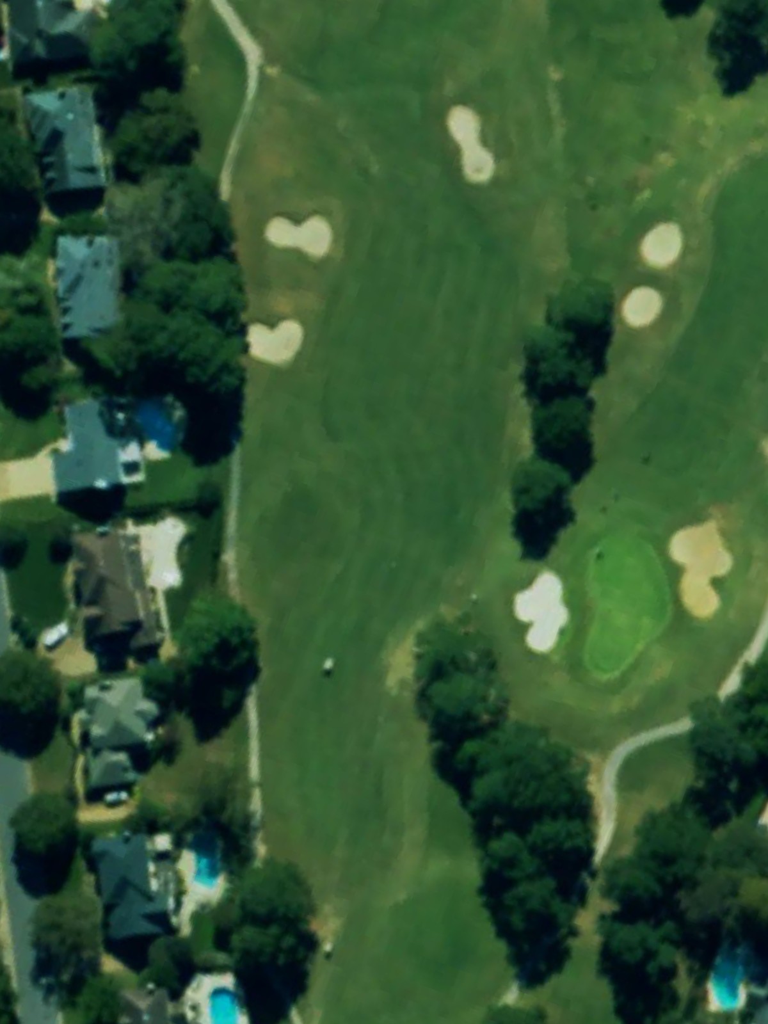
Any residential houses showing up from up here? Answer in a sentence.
Yes, the picture does show a residential house.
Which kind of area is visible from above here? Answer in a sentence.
This image shows a golf course.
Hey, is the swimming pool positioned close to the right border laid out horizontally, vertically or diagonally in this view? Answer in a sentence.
The swimming pool positioned close to the right border is oriented vertically.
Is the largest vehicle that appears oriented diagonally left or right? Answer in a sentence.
The largest vehicle that appears oriented diagonally sits on the left side.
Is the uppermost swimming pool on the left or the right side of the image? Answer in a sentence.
The uppermost swimming pool sits on the left side.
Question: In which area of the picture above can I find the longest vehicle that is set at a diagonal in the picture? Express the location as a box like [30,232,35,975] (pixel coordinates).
[43,622,68,647]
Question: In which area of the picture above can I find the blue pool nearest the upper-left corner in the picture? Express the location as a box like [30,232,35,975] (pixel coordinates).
[136,399,178,450]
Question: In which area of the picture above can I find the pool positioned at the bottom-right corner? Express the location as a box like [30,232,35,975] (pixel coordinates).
[713,951,741,1010]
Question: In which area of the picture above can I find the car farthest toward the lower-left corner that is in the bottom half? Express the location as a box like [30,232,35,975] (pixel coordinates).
[104,792,128,804]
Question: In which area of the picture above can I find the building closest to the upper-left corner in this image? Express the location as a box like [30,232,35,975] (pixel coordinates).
[9,0,95,64]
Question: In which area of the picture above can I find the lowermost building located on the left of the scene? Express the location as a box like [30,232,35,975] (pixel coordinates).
[114,982,170,1024]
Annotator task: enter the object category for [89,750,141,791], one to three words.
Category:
building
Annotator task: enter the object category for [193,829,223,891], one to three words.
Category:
swimming pool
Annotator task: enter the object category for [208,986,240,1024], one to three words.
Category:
swimming pool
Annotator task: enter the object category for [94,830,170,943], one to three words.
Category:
house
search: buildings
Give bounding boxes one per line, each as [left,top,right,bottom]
[94,830,170,943]
[22,88,103,191]
[54,394,127,492]
[9,0,95,64]
[69,521,166,647]
[54,236,120,337]
[82,680,161,748]
[114,982,170,1024]
[89,750,141,791]
[154,832,173,852]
